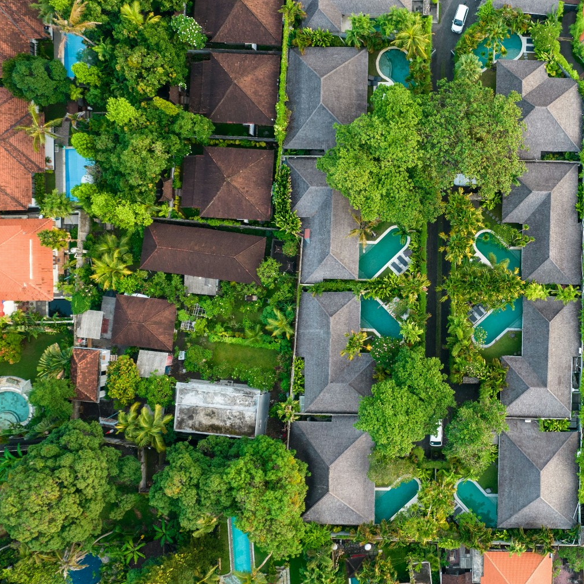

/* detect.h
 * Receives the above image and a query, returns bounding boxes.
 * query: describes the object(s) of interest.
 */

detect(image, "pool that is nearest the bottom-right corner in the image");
[456,479,498,529]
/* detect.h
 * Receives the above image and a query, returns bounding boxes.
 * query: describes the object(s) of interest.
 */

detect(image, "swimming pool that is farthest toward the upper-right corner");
[472,30,525,71]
